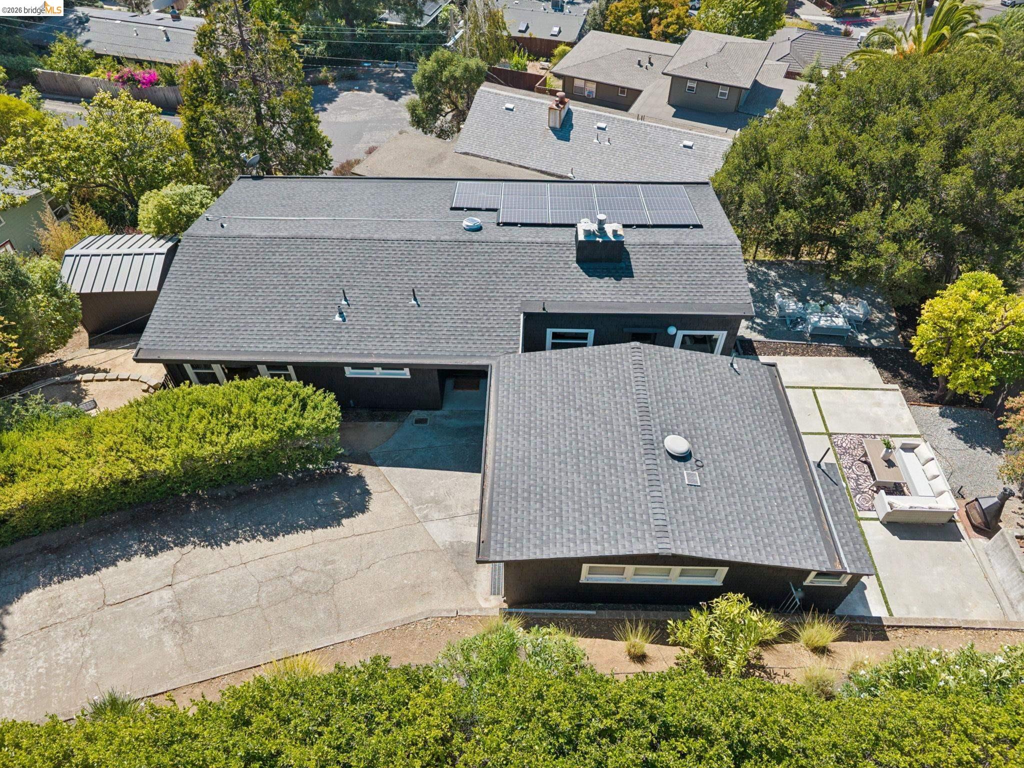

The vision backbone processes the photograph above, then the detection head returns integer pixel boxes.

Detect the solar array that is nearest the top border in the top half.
[447,178,708,229]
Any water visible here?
No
